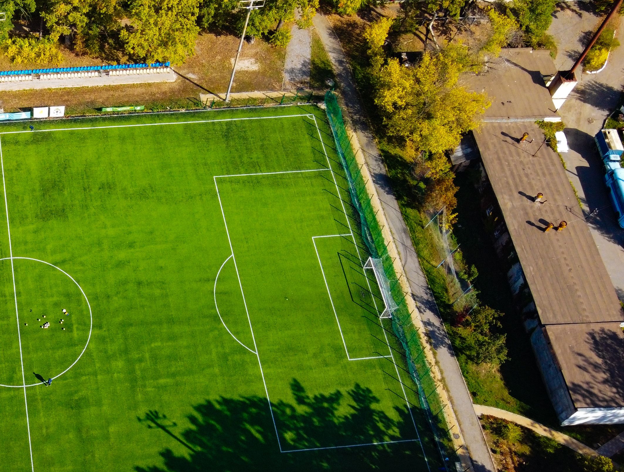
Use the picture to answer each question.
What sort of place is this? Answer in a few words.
sports ground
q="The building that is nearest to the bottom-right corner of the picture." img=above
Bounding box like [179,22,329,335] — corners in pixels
[531,325,624,420]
